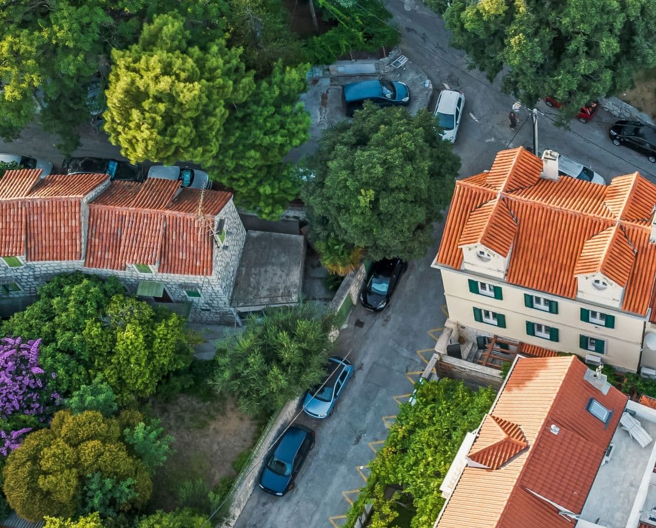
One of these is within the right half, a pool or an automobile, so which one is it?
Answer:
automobile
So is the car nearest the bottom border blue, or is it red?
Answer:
blue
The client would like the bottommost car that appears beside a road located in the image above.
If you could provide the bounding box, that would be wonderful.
[264,415,319,498]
